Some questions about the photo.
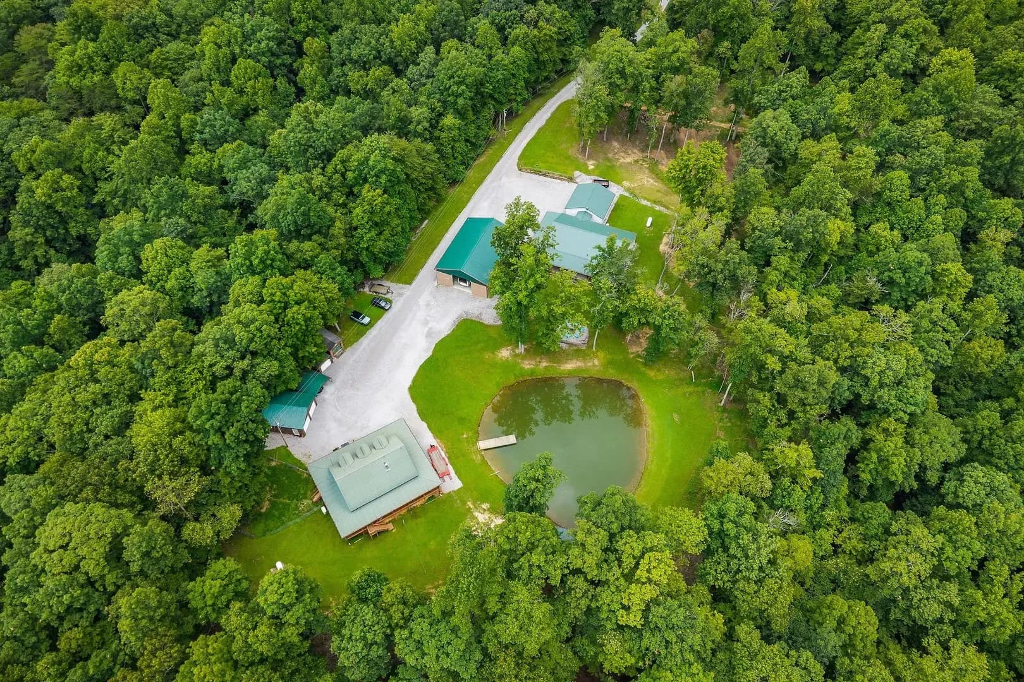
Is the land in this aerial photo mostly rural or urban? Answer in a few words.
rural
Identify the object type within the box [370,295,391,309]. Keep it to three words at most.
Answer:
car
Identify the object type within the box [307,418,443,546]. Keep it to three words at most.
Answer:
house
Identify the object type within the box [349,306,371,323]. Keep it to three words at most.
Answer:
car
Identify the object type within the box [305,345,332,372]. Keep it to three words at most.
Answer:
shed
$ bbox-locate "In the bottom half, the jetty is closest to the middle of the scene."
[478,435,516,451]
